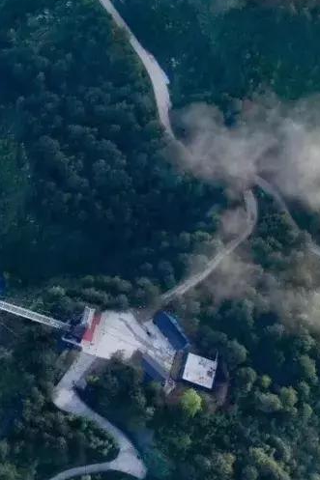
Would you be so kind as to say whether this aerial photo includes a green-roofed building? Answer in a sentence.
No, the picture doesn't show any green-roofed building.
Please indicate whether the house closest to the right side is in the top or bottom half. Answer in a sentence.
The house closest to the right side is in the bottom half of the image.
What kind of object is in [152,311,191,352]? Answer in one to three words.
shed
